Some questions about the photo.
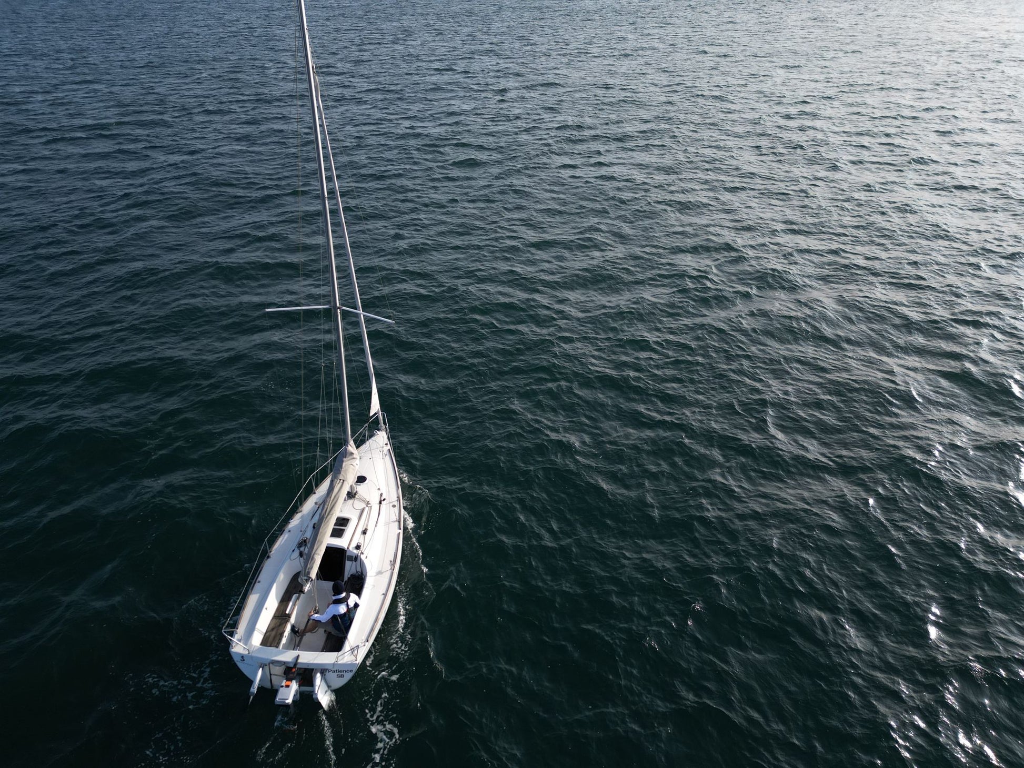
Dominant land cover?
water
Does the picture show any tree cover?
No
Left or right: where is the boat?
left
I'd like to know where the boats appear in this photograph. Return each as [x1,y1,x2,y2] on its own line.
[225,0,405,707]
